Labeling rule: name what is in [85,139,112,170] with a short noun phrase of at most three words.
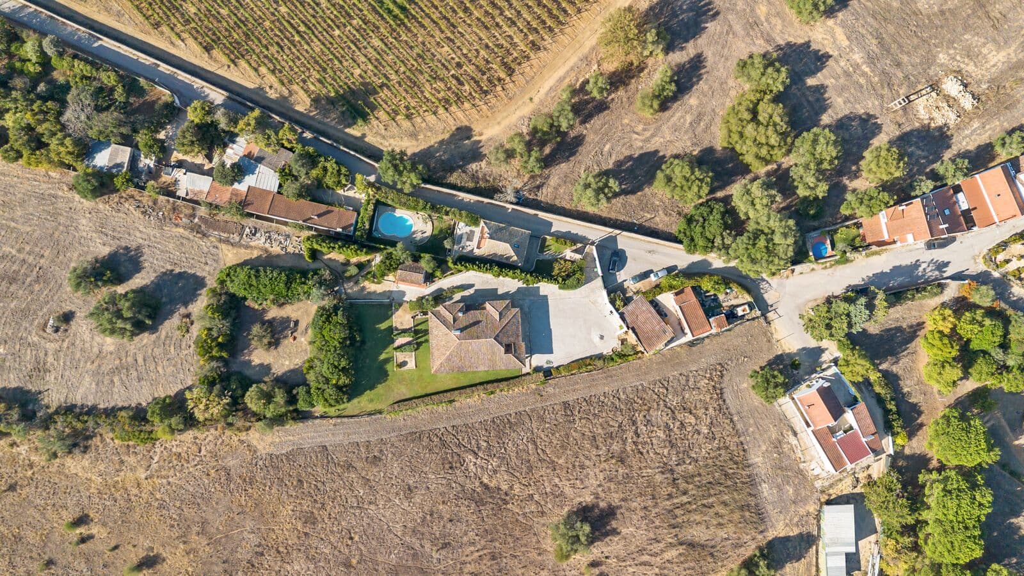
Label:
shed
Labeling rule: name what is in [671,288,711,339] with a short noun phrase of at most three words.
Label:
house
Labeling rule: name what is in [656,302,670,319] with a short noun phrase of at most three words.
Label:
car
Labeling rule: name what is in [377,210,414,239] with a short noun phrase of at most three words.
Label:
swimming pool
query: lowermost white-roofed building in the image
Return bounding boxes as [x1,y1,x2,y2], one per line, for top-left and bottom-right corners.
[818,500,855,576]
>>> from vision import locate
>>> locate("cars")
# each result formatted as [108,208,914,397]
[656,302,670,319]
[925,239,944,249]
[631,271,649,282]
[650,268,668,279]
[611,251,622,272]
